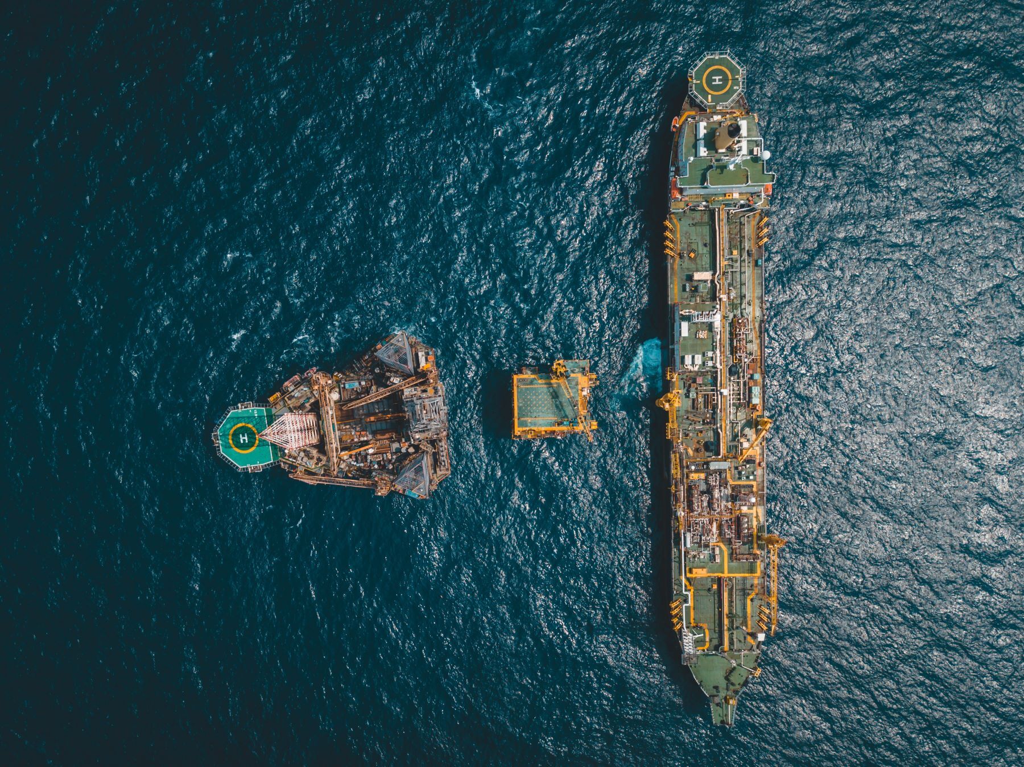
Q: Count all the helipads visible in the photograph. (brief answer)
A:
2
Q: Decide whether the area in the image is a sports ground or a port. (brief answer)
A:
port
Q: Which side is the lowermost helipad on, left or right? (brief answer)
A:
left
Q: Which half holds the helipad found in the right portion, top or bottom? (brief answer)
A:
top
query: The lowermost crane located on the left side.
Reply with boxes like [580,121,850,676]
[288,474,393,496]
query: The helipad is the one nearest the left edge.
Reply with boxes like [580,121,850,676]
[211,402,280,473]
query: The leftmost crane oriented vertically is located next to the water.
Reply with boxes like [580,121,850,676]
[316,369,337,476]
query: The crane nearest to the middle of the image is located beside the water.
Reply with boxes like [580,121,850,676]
[552,360,593,442]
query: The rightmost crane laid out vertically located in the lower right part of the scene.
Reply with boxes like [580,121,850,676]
[759,536,791,635]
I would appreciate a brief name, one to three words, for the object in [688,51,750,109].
helipad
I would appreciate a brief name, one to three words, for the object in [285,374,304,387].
boat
